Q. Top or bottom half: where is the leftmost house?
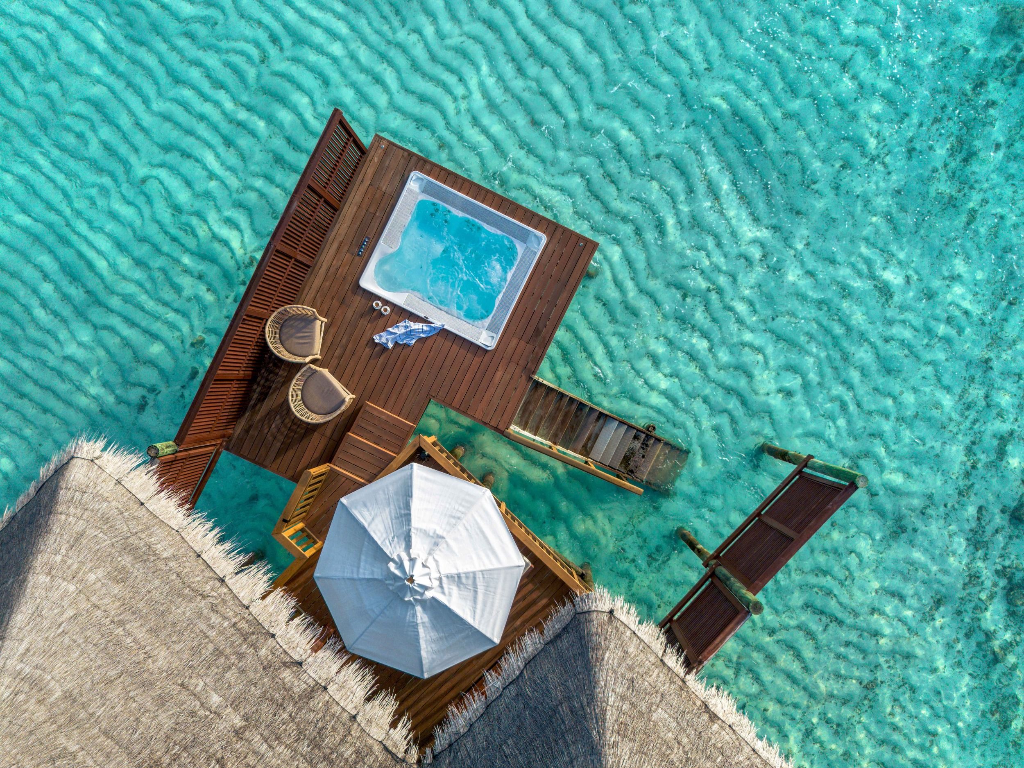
bottom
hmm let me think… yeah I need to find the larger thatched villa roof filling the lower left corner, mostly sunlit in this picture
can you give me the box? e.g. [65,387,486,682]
[0,423,428,768]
